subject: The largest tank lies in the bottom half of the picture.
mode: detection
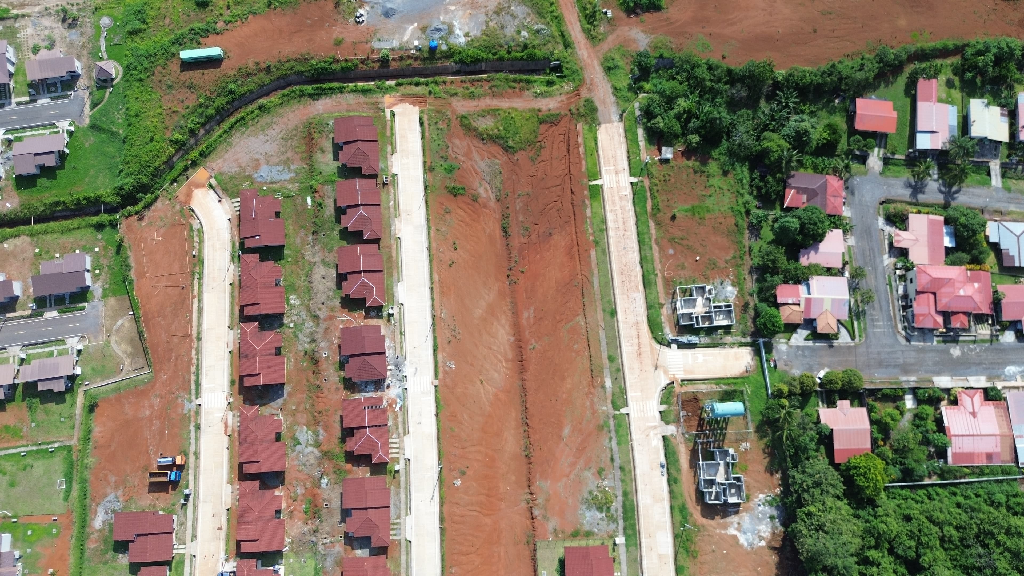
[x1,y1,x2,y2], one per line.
[691,401,748,418]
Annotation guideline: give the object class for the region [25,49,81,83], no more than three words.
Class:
house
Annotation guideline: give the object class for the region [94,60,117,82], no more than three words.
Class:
gazebo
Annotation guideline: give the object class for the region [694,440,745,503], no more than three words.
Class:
house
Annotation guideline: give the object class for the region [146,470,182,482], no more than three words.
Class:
vehicle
